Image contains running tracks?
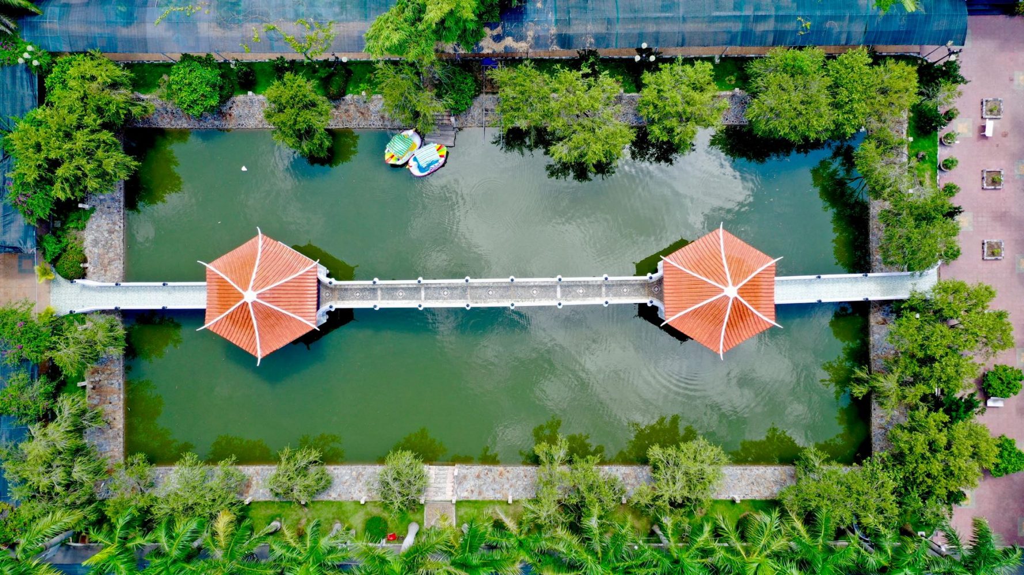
No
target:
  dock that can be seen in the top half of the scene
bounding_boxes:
[425,124,456,148]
